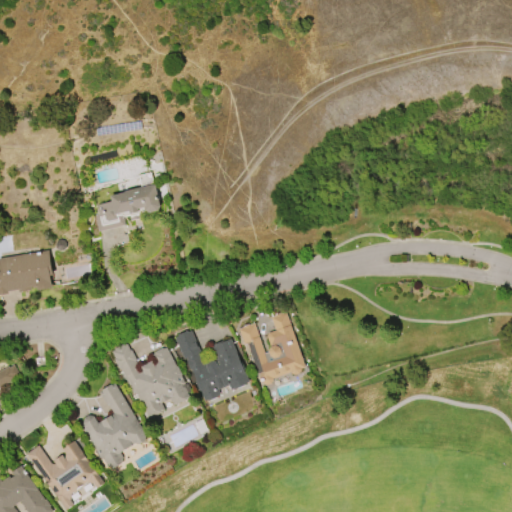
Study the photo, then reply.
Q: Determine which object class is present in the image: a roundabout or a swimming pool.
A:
swimming pool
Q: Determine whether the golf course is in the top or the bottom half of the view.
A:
bottom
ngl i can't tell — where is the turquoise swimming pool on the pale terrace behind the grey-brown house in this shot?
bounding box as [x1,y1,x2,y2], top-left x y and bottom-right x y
[96,168,120,184]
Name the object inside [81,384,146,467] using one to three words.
house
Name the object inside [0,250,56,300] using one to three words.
house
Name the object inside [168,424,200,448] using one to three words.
swimming pool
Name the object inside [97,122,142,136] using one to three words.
solar array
